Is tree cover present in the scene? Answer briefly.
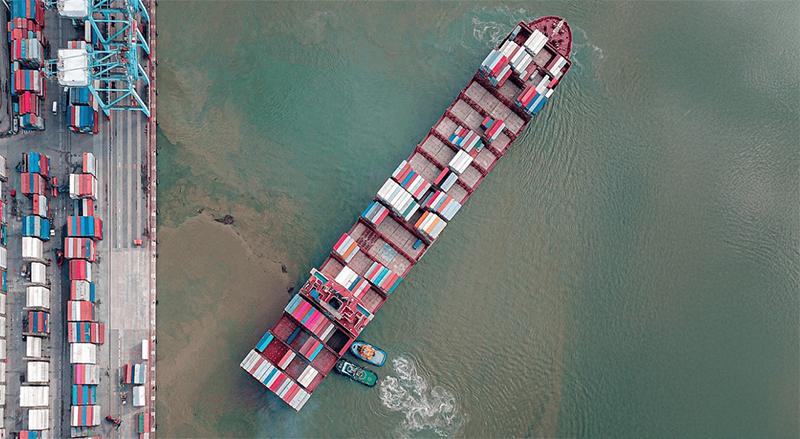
No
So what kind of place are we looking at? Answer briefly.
port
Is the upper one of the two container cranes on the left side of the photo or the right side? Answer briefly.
left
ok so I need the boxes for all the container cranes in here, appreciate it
[41,9,150,123]
[41,0,150,59]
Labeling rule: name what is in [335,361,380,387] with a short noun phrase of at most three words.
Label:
boat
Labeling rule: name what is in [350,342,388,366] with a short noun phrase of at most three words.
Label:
boat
